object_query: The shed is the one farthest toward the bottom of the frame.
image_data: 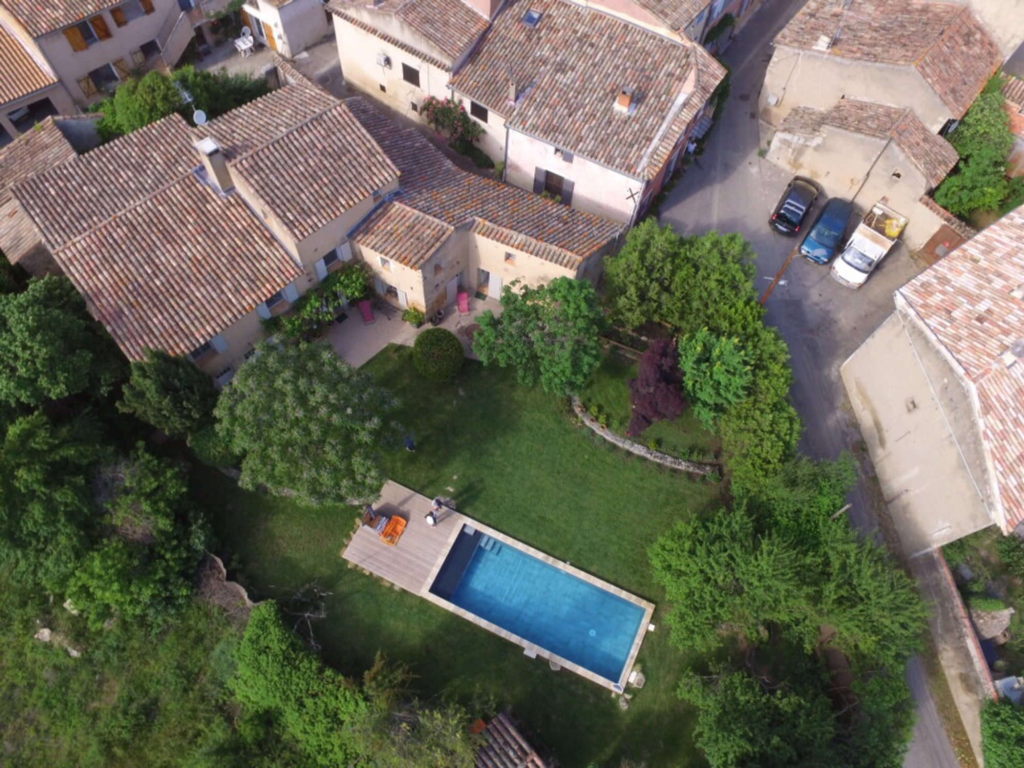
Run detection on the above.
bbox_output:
[460,710,544,768]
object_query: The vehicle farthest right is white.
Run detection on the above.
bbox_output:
[838,202,906,290]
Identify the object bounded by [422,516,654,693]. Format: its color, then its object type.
blue swimming pool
